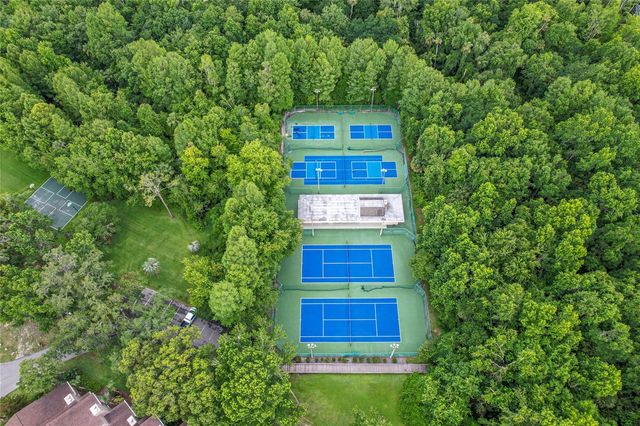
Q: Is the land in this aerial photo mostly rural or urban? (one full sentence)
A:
The area shown here is rural.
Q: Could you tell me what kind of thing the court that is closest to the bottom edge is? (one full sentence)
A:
I'd identify the court that is closest to the bottom edge as a tennis court.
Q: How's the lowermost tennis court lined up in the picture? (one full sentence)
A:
I'd say the lowermost tennis court is aligned horizontally in the picture.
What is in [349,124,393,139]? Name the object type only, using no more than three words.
sports court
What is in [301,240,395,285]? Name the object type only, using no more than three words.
tennis court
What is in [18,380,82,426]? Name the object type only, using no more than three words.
house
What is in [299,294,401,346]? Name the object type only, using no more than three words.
tennis court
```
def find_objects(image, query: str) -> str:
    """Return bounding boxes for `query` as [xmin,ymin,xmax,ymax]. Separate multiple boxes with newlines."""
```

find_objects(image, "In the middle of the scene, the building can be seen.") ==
[298,194,404,229]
